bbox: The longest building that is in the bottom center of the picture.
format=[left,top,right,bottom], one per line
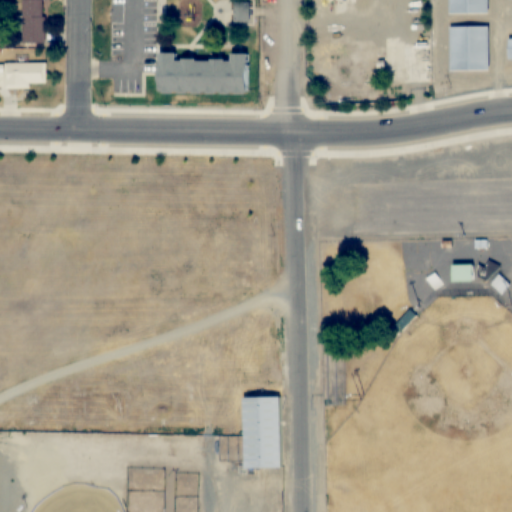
[243,396,282,468]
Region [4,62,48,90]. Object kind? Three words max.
house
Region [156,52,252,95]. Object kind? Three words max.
building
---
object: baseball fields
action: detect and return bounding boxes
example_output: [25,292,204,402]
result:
[318,239,512,512]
